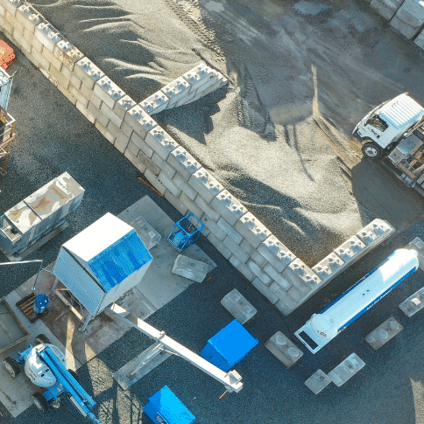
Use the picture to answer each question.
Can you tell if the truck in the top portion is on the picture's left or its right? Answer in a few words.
right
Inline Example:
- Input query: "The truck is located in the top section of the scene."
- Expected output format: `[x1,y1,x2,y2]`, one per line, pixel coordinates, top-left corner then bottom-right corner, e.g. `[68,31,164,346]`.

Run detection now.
[350,82,424,166]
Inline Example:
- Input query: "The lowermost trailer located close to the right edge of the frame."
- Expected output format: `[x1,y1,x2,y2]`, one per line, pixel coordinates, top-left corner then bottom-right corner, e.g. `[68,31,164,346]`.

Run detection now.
[292,246,423,358]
